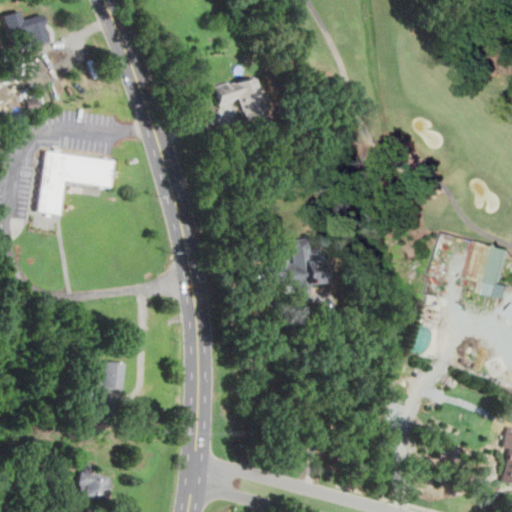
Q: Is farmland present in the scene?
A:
No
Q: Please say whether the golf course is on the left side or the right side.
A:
right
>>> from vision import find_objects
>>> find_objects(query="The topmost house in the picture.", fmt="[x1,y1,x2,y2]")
[5,12,50,43]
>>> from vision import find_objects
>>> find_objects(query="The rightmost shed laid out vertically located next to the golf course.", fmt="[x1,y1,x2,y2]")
[483,244,506,284]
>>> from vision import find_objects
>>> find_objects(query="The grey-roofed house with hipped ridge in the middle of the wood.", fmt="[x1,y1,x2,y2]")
[290,240,329,286]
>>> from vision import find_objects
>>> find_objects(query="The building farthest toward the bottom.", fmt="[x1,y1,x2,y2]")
[80,465,112,498]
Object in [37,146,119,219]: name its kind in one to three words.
building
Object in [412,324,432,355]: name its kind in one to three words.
swimming pool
